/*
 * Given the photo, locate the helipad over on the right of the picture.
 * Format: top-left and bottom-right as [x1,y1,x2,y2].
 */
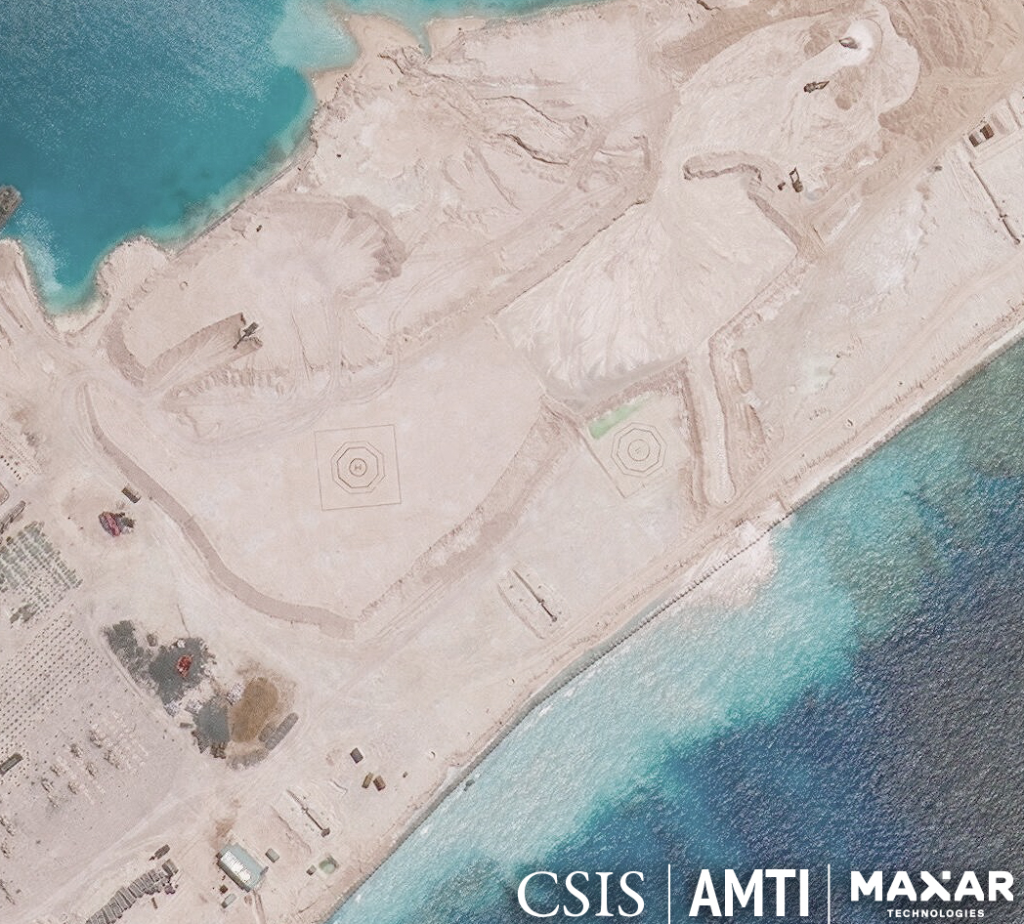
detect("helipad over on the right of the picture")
[583,408,674,498]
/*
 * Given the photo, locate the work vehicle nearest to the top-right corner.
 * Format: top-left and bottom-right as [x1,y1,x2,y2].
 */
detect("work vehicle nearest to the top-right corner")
[839,38,859,51]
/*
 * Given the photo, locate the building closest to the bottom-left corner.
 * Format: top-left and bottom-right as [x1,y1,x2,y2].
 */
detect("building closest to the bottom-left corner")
[220,845,270,888]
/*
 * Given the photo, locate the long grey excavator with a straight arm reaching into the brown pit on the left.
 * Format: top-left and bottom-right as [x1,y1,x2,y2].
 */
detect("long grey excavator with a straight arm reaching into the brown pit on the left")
[234,323,259,348]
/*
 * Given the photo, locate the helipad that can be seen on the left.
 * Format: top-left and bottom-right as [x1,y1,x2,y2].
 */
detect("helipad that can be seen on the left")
[314,425,401,511]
